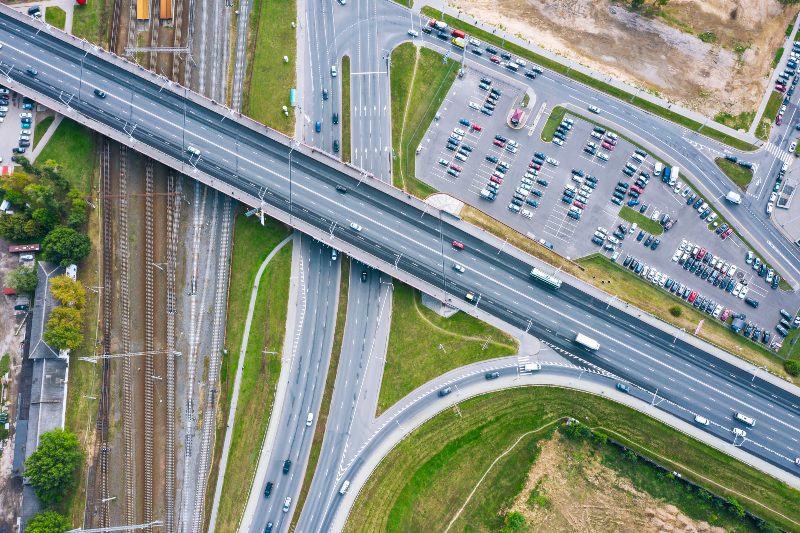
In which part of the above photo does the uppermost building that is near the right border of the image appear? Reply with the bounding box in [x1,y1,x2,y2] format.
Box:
[772,177,800,211]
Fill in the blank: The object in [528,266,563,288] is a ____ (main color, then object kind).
white bus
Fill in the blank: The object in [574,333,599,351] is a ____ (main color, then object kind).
white vehicle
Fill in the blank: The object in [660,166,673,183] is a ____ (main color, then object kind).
blue vehicle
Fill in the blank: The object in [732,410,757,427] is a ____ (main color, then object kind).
white vehicle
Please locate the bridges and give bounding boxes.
[0,2,460,318]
